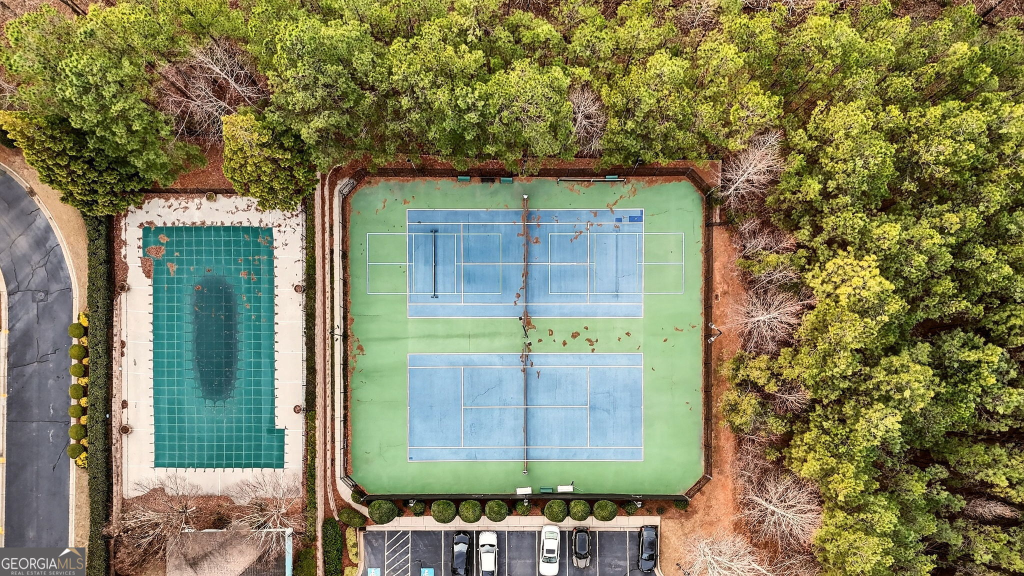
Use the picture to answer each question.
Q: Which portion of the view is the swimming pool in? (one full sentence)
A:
The swimming pool sits in the left section of the image.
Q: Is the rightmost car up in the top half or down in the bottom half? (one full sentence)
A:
The rightmost car is in the bottom half of the image.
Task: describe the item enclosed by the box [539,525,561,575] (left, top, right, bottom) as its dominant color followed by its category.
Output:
white car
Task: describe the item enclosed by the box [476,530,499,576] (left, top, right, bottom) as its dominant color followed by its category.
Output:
white car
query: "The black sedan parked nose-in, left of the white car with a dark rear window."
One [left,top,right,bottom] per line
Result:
[449,531,471,576]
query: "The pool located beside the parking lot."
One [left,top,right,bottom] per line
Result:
[138,223,288,472]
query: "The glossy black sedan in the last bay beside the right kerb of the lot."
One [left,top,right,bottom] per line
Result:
[639,526,661,573]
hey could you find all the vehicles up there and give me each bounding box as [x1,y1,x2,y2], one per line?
[449,531,471,576]
[639,526,661,573]
[539,525,561,575]
[571,527,593,568]
[476,530,499,576]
